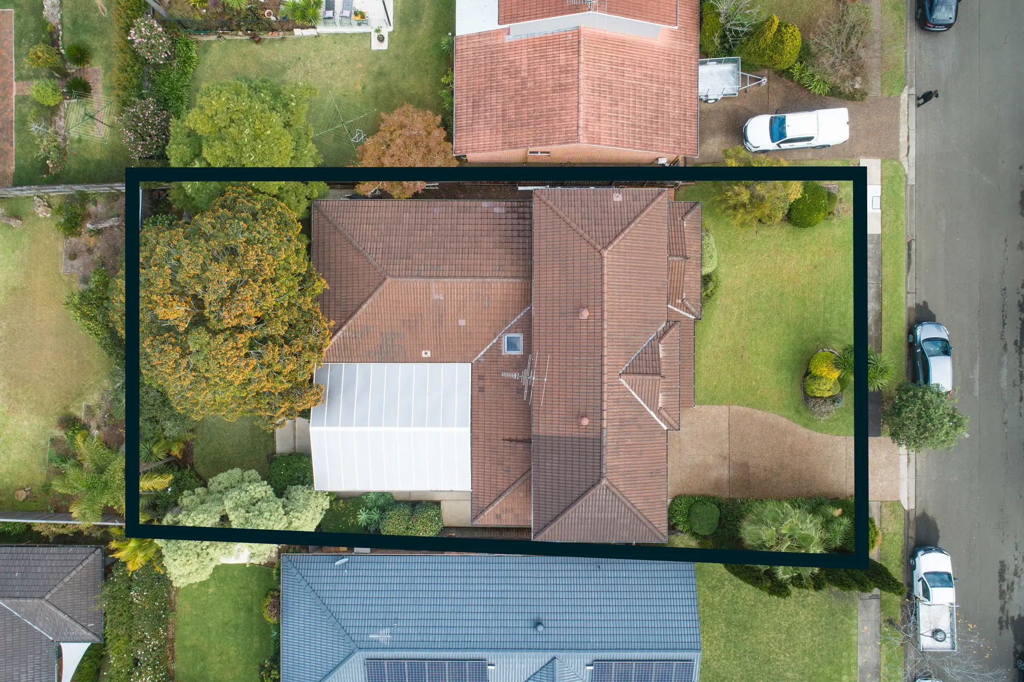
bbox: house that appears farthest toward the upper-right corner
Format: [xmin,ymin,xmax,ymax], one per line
[451,0,701,164]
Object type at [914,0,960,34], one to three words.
car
